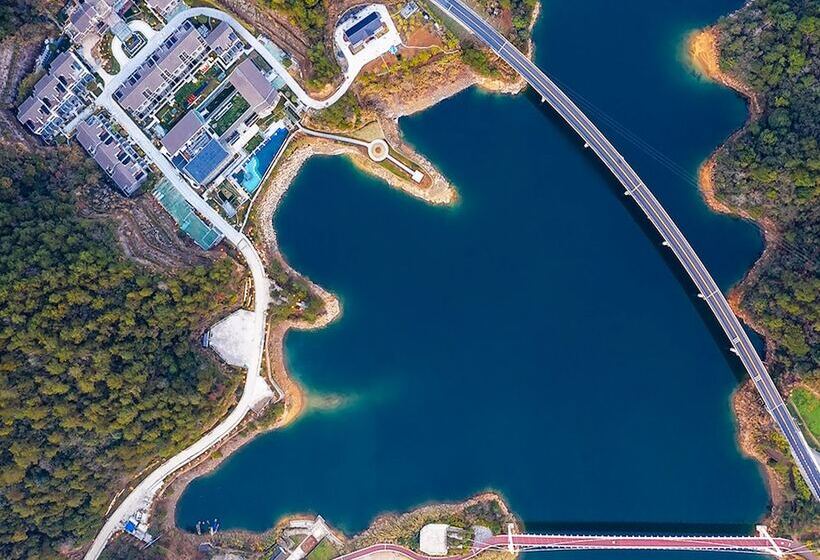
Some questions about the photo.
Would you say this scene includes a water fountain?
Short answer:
Yes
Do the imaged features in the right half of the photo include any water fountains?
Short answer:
No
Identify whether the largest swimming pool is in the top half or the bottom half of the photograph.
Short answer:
top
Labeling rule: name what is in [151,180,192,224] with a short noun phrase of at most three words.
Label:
sports court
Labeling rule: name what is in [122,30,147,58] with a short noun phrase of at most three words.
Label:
fountain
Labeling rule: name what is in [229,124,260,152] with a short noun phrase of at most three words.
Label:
building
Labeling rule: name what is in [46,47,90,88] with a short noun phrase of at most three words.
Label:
house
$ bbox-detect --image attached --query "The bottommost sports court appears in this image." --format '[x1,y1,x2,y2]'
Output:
[179,210,219,249]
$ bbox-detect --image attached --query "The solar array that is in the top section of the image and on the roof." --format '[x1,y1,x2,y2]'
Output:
[187,140,227,181]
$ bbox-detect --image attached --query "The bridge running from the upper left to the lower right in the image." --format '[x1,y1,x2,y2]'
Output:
[445,0,786,411]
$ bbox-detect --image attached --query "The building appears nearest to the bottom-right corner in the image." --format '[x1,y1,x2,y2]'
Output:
[420,522,450,554]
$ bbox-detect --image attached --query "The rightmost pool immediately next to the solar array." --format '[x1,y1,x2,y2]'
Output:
[232,127,290,194]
